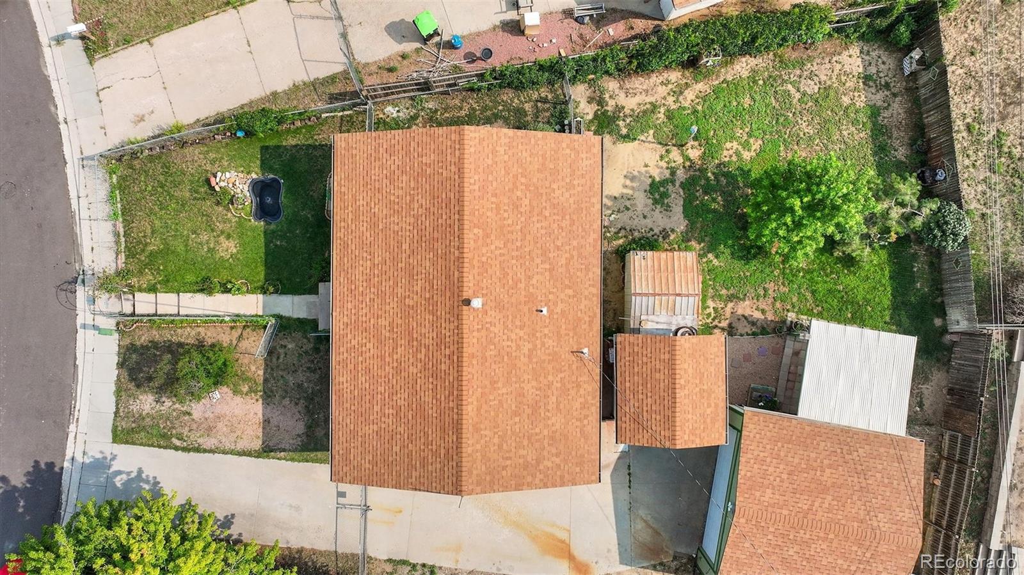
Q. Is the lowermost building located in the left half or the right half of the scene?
right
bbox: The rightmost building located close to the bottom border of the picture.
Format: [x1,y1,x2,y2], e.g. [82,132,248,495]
[694,404,924,575]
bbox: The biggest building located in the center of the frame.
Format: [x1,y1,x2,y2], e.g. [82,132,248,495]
[329,125,604,494]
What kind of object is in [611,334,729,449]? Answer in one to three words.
shed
